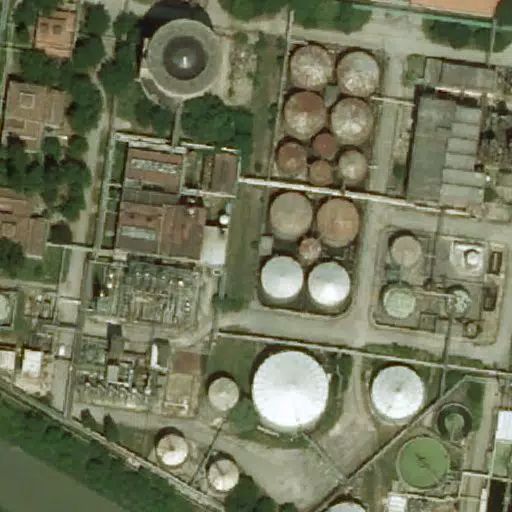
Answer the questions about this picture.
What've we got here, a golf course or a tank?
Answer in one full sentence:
It is a tank that can be seen here.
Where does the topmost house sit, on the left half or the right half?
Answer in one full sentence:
You can find the topmost house on the left side of the picture.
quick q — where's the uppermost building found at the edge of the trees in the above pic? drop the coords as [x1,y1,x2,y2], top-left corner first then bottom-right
[34,9,77,59]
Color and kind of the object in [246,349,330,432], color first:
white storage tank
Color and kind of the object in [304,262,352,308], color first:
white storage tank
